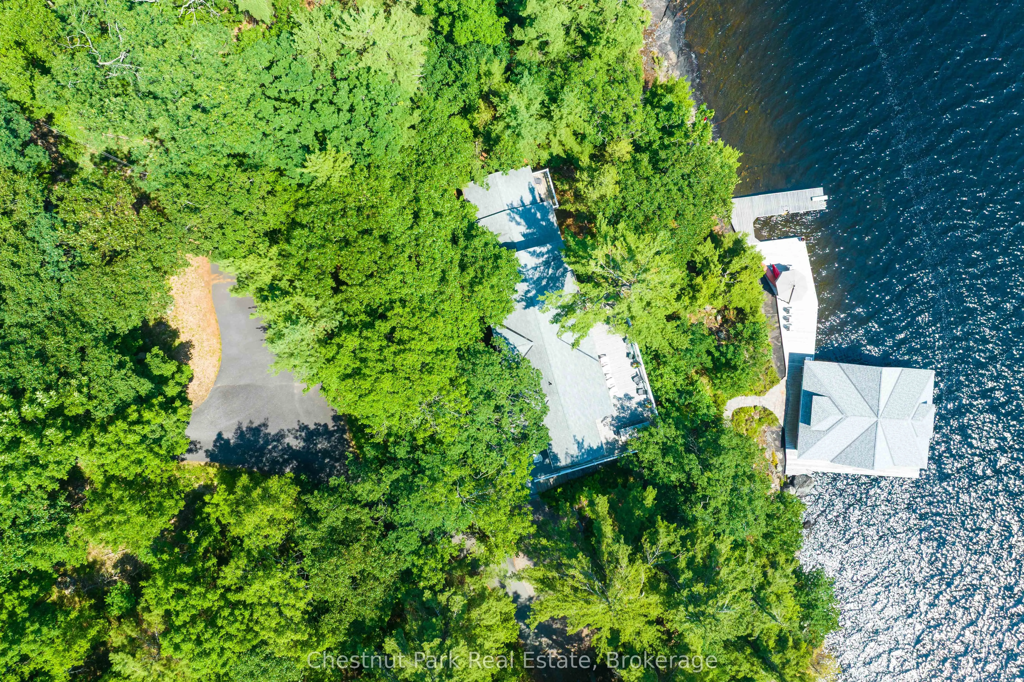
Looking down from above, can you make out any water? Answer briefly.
Yes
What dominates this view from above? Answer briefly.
trees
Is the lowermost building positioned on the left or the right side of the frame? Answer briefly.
right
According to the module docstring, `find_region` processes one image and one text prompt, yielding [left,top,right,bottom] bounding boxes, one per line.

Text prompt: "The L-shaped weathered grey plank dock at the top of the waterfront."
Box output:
[732,187,826,243]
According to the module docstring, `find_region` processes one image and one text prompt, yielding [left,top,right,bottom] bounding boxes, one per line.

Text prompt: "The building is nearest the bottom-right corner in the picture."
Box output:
[792,360,936,470]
